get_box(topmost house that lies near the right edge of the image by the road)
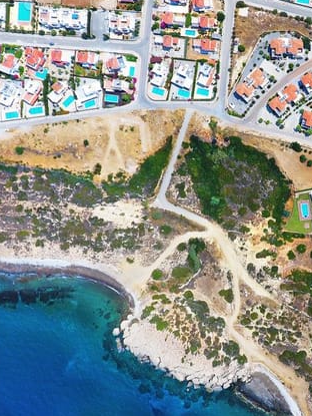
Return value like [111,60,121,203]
[270,37,305,59]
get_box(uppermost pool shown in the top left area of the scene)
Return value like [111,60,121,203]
[18,2,31,22]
